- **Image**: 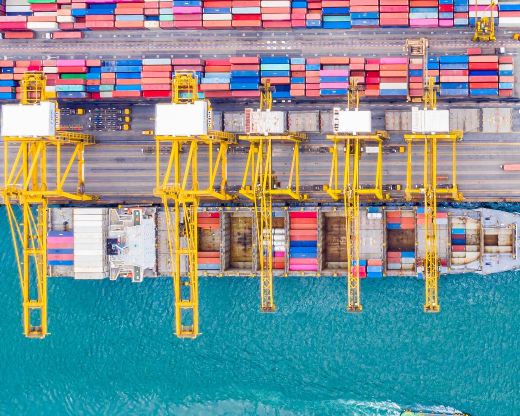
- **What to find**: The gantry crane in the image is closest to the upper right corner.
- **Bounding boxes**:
[474,0,502,44]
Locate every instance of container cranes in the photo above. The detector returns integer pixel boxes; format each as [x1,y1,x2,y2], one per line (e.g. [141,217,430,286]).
[156,71,244,338]
[402,71,476,313]
[242,71,321,313]
[328,71,402,313]
[474,0,502,44]
[407,40,436,107]
[2,71,100,338]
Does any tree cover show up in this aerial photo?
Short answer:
No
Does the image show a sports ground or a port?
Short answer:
port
